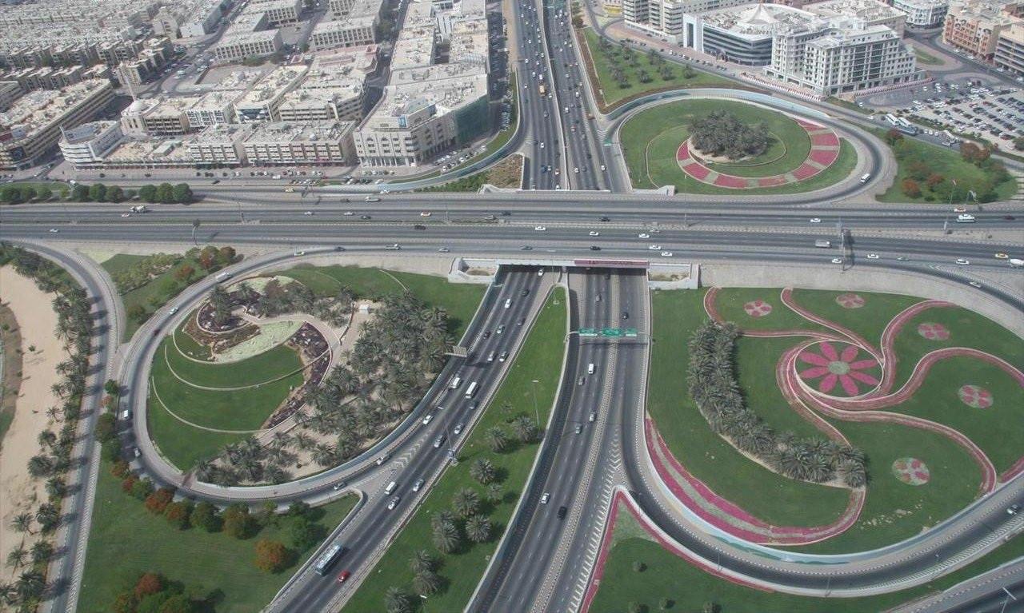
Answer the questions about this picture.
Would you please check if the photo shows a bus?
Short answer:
Yes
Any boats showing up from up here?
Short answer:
No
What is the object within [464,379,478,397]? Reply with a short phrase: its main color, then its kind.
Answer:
white vehicle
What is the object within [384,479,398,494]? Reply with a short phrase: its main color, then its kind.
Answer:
white vehicle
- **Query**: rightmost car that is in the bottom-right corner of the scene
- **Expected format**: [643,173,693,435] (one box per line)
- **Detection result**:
[1005,503,1021,515]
